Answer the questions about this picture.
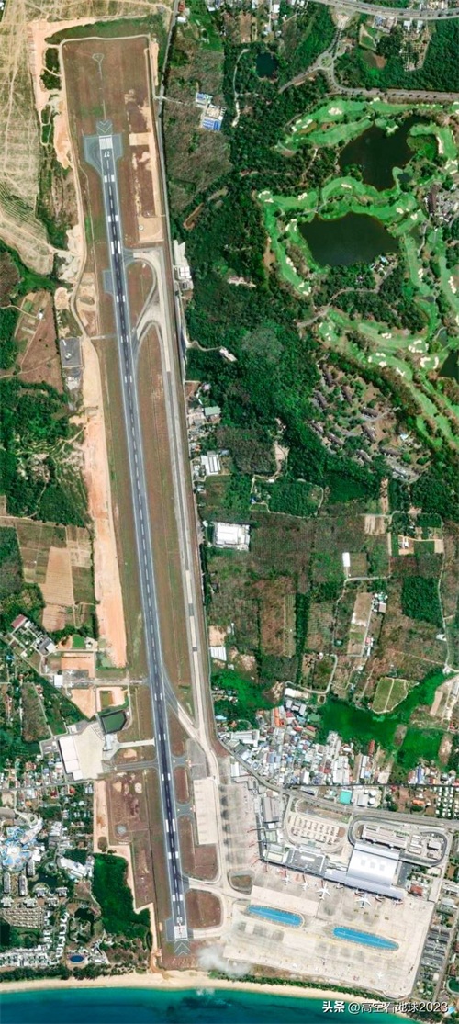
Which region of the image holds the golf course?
top right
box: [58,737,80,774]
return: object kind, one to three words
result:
hangar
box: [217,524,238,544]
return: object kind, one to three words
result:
building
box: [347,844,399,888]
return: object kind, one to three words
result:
building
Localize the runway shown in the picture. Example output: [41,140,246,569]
[99,123,189,952]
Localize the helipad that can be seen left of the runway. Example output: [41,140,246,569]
[60,337,81,367]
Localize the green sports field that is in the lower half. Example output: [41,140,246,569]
[372,677,417,713]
